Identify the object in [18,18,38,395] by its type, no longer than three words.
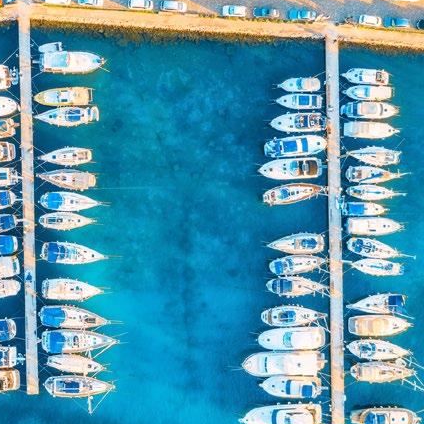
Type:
pier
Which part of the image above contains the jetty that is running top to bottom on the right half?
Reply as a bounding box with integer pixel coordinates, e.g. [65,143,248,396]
[324,39,345,424]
